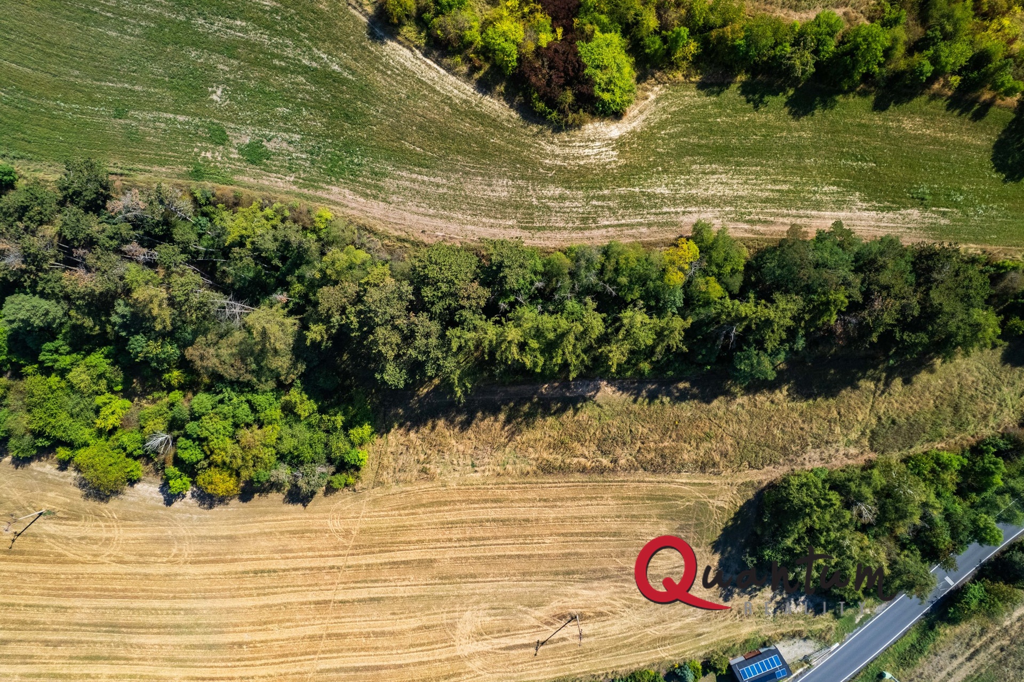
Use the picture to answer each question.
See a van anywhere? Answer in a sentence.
No, the photo shows no van.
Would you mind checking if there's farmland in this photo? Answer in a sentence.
Yes, the picture does contain farmland.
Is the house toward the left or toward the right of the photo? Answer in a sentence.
You can find the house on the right side of the picture.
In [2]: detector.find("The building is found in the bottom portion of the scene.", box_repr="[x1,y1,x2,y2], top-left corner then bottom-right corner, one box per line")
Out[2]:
[728,641,786,682]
